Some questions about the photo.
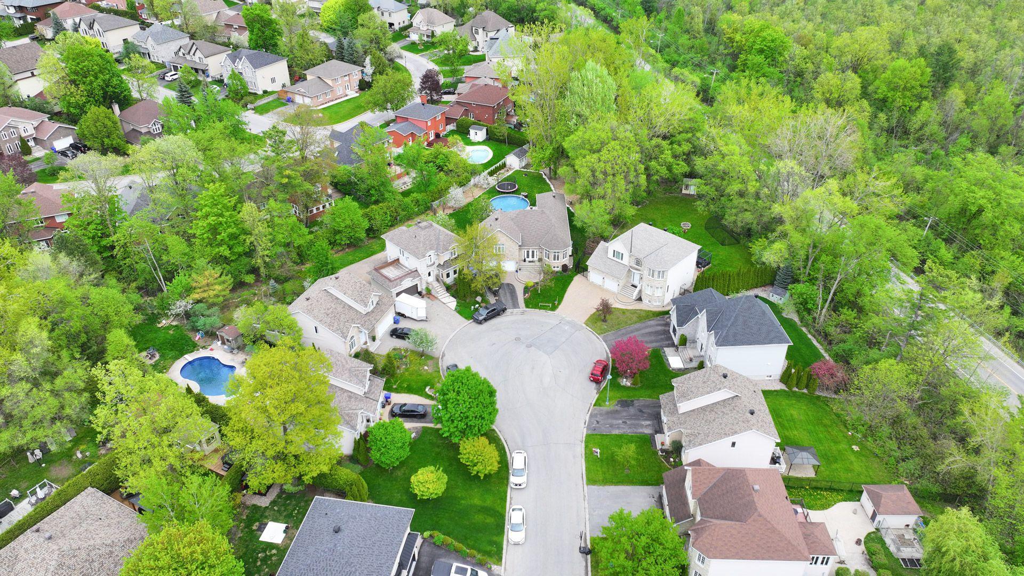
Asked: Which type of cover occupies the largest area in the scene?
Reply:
trees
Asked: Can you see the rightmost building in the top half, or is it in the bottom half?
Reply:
bottom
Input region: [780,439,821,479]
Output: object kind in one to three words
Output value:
gazebo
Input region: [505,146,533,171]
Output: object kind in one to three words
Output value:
shed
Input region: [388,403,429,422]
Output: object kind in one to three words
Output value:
car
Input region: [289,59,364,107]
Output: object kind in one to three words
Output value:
house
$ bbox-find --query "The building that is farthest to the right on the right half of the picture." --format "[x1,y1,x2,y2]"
[858,484,923,530]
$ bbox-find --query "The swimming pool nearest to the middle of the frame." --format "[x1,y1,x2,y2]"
[489,195,531,209]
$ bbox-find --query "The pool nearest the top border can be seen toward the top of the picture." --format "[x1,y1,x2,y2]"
[468,147,491,163]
